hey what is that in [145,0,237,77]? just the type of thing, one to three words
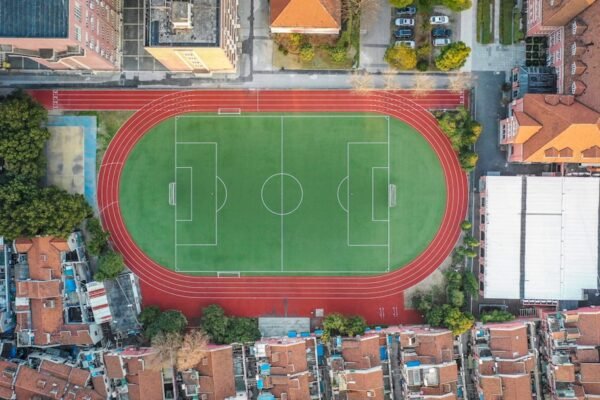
building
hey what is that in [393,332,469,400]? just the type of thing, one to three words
house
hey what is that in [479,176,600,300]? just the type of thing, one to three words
building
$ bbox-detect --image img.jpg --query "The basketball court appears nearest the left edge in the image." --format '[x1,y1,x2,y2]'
[35,112,98,218]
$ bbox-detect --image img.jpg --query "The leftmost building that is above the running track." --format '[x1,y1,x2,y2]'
[0,0,121,71]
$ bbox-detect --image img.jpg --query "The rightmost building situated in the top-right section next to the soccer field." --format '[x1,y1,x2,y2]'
[500,0,600,163]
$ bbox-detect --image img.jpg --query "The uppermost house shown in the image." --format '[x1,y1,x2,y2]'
[270,0,340,32]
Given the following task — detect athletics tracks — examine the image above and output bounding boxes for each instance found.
[26,90,472,327]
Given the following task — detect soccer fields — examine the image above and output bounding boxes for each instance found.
[120,112,446,276]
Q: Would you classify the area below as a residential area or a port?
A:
residential area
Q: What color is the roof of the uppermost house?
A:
orange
